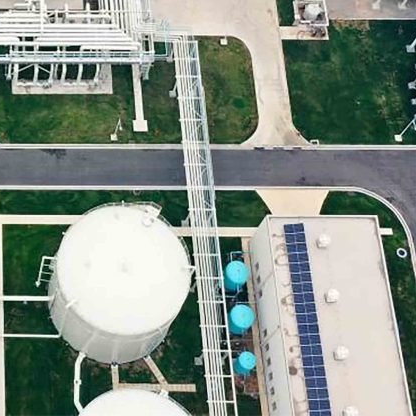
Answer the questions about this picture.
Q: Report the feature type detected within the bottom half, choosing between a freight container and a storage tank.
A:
storage tank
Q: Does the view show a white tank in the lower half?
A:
Yes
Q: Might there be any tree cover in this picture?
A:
No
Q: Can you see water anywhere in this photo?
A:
No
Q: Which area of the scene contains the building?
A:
bottom right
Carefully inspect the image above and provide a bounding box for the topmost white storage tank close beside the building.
[42,204,200,367]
